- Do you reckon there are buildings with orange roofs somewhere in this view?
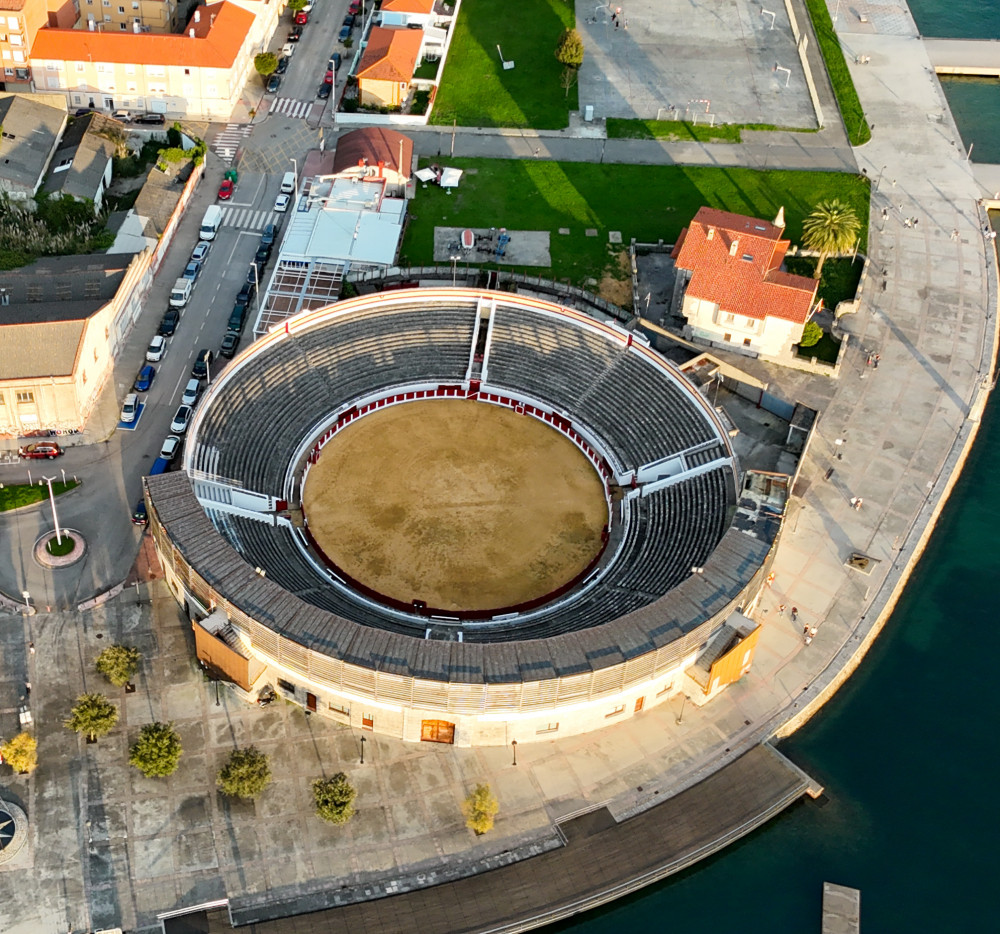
Yes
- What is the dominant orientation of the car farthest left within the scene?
horizontally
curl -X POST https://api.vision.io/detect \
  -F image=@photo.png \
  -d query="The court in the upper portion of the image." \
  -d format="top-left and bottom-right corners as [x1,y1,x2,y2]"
[573,0,815,124]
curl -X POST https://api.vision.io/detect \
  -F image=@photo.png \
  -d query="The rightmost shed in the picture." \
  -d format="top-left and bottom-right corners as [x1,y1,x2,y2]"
[784,401,819,448]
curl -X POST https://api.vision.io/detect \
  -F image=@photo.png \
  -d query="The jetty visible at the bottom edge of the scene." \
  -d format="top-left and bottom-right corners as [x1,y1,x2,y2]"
[819,882,859,934]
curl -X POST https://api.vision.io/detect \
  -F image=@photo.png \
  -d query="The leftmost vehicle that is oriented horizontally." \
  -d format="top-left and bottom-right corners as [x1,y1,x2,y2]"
[20,438,62,458]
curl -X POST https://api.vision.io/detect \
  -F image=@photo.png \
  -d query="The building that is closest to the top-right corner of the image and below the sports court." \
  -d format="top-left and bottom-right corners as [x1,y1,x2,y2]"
[670,206,818,355]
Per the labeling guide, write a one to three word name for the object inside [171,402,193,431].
car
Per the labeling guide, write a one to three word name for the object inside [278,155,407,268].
building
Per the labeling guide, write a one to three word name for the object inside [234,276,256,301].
car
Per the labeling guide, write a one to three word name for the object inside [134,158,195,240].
shed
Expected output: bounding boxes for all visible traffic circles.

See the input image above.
[30,526,90,571]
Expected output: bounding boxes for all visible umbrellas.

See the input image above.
[411,164,440,191]
[437,170,466,194]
